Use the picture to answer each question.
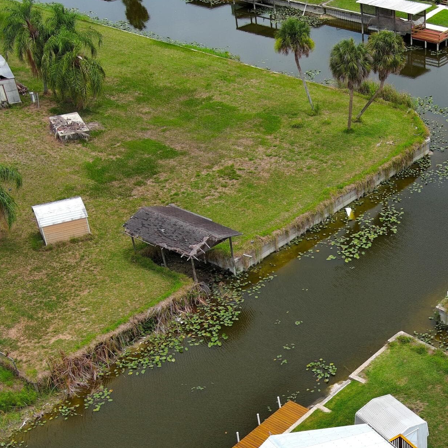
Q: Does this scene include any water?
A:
Yes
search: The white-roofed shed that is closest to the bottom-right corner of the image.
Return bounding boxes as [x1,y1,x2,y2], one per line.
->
[353,391,430,448]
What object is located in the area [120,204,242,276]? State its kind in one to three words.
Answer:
building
